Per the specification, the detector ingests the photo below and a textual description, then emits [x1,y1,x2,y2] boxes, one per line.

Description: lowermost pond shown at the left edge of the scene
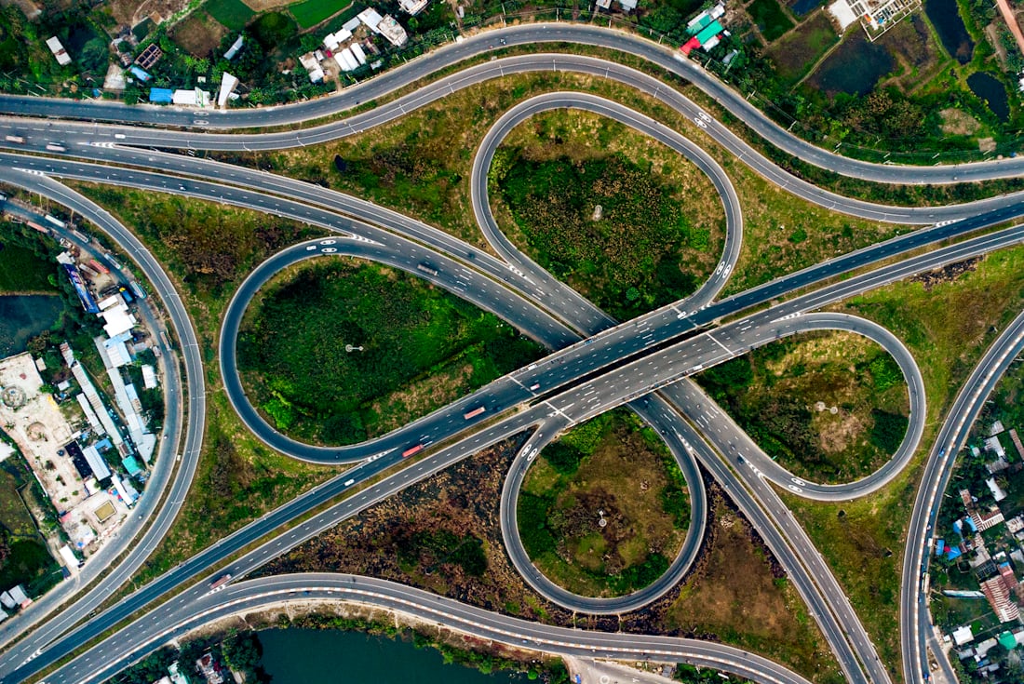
[0,293,63,360]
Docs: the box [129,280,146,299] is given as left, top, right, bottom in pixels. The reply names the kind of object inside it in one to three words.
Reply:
vehicle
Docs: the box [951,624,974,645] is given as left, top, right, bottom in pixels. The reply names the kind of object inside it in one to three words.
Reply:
house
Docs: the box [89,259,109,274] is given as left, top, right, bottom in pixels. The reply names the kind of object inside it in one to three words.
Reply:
vehicle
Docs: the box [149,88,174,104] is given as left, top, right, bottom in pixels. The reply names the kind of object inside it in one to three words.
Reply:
shed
